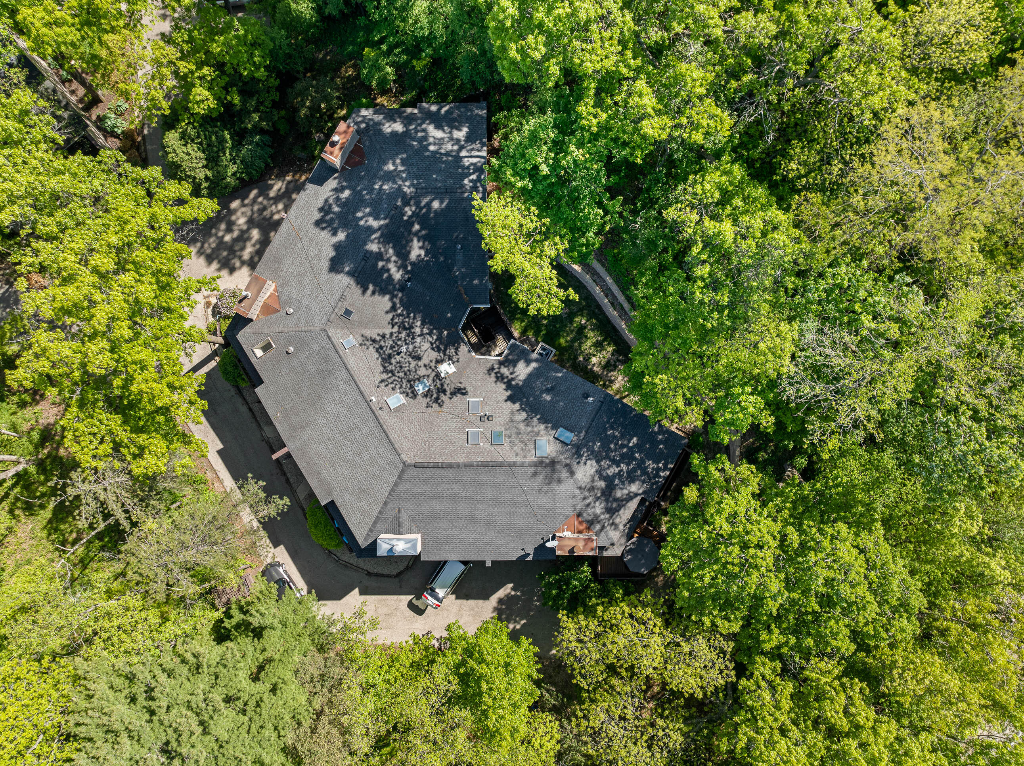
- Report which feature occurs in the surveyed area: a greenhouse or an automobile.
automobile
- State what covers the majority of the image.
trees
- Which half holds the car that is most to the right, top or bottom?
bottom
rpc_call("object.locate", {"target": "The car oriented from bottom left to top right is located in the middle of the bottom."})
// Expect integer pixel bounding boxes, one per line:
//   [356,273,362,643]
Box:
[421,561,472,610]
